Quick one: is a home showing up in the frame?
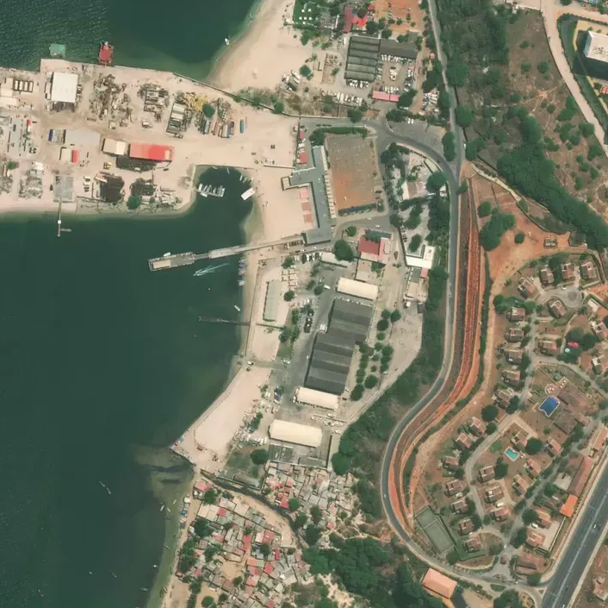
Yes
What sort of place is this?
port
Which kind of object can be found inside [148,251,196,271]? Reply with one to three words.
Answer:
pier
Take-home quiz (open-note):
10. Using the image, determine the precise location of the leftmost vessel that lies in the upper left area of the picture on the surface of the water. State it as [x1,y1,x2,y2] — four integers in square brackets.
[49,43,65,59]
